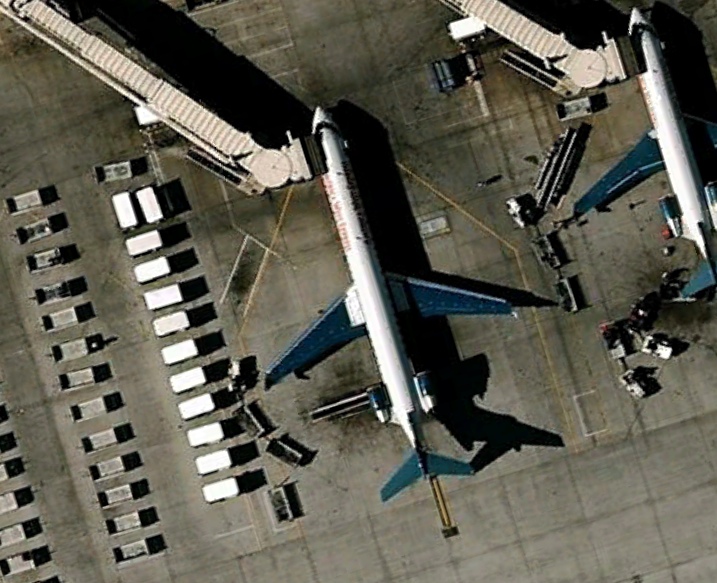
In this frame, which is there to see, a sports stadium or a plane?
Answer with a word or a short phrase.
plane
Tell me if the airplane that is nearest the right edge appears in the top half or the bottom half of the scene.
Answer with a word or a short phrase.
top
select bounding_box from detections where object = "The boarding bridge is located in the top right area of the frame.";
[453,0,645,96]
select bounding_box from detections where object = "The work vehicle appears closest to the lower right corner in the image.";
[621,368,650,395]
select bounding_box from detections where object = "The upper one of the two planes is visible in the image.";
[572,8,717,303]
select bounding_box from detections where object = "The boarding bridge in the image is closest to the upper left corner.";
[0,0,326,195]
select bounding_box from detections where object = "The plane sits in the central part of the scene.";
[263,107,515,502]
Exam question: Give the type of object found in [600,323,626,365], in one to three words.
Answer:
truck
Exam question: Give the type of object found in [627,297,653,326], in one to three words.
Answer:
work vehicle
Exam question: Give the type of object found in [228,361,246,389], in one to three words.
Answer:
work vehicle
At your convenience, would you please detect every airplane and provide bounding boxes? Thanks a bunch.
[263,107,515,502]
[572,8,717,303]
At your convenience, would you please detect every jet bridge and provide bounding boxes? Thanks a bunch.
[0,0,326,195]
[453,0,645,96]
